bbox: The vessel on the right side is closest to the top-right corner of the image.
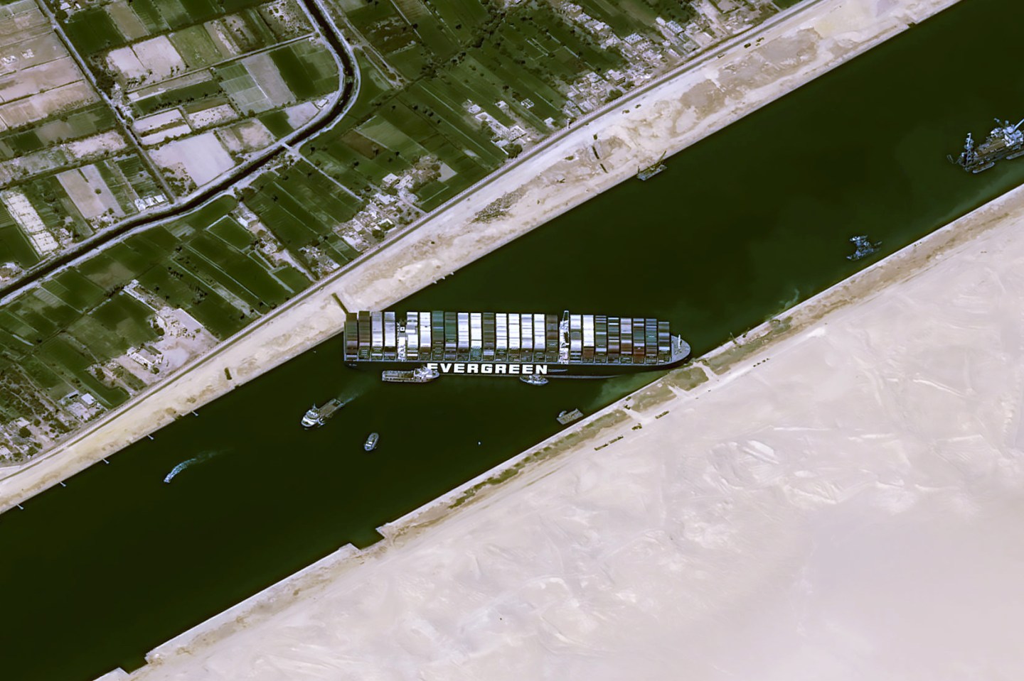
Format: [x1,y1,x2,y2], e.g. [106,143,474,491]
[954,123,1024,170]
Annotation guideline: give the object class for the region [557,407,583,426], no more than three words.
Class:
ship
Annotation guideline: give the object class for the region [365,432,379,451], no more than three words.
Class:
boat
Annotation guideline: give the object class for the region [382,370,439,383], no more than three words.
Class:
vessel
